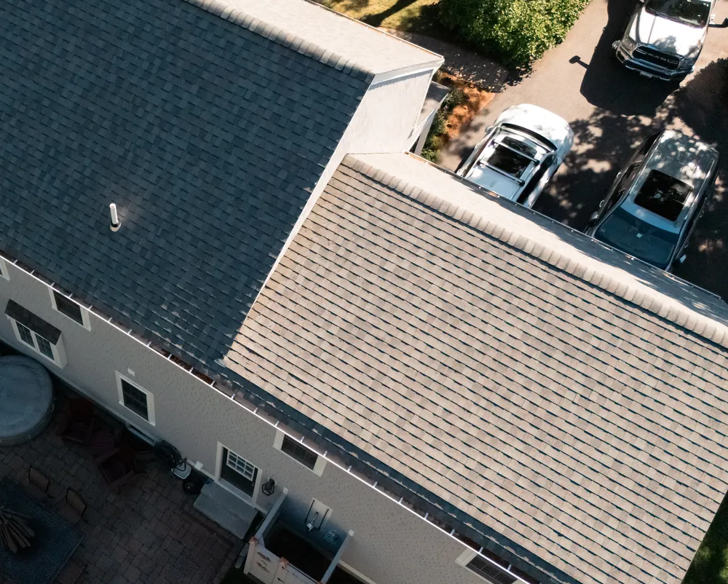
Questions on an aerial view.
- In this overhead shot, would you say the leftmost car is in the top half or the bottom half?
top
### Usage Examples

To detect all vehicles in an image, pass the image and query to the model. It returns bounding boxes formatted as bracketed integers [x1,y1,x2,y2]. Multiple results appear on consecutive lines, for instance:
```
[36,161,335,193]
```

[610,0,728,87]
[462,101,572,205]
[586,123,725,270]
